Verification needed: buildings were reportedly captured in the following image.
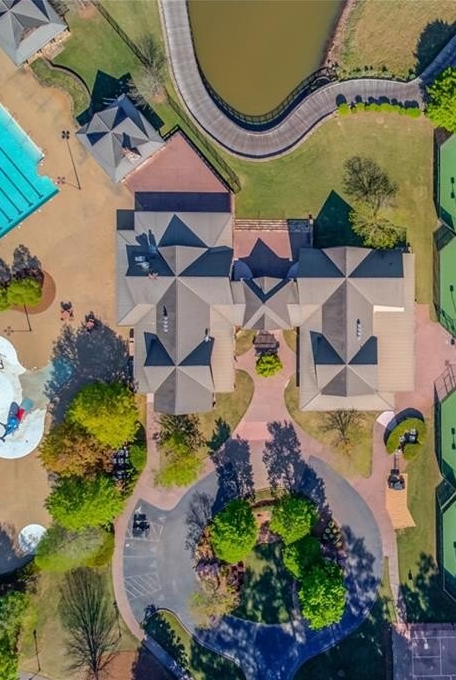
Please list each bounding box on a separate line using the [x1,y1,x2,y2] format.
[117,212,415,415]
[0,0,73,71]
[75,94,169,185]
